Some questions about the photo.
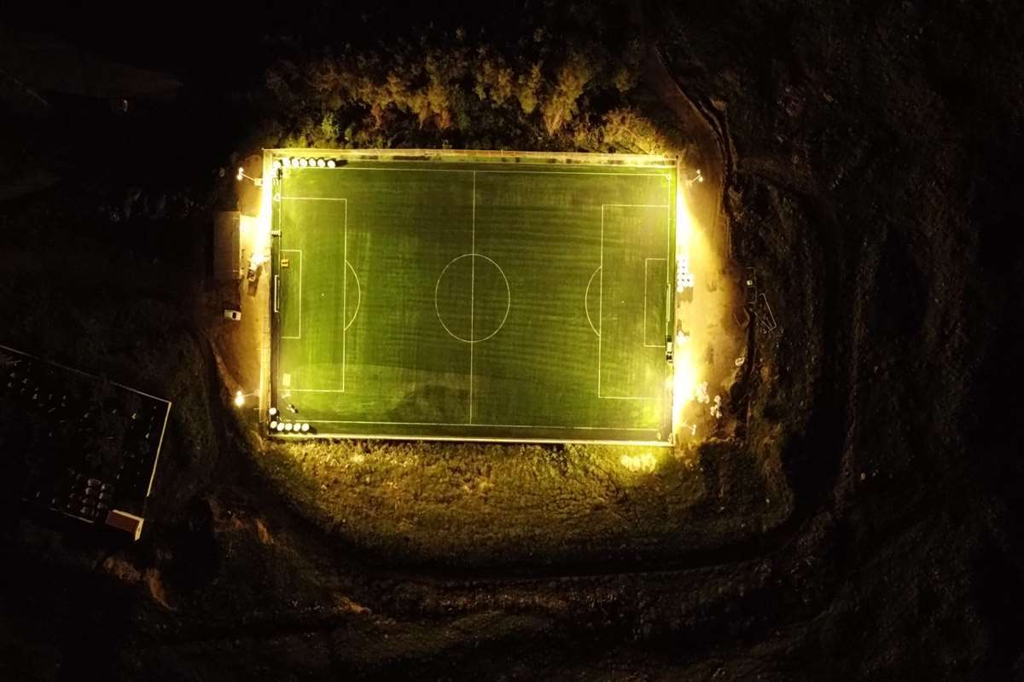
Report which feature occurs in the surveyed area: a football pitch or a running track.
football pitch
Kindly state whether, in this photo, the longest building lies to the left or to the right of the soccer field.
on its left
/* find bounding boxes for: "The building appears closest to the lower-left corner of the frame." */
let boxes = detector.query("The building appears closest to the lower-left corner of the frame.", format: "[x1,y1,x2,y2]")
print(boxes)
[98,510,144,545]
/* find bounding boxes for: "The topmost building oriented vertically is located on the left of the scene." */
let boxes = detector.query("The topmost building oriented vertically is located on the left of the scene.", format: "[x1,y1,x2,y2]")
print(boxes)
[208,211,240,277]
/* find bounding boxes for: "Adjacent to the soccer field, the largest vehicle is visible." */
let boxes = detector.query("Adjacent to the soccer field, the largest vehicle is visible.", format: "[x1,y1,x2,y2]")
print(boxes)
[247,251,264,280]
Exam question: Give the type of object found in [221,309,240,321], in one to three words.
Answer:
vehicle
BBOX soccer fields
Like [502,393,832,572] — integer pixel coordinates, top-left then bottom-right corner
[271,154,677,443]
